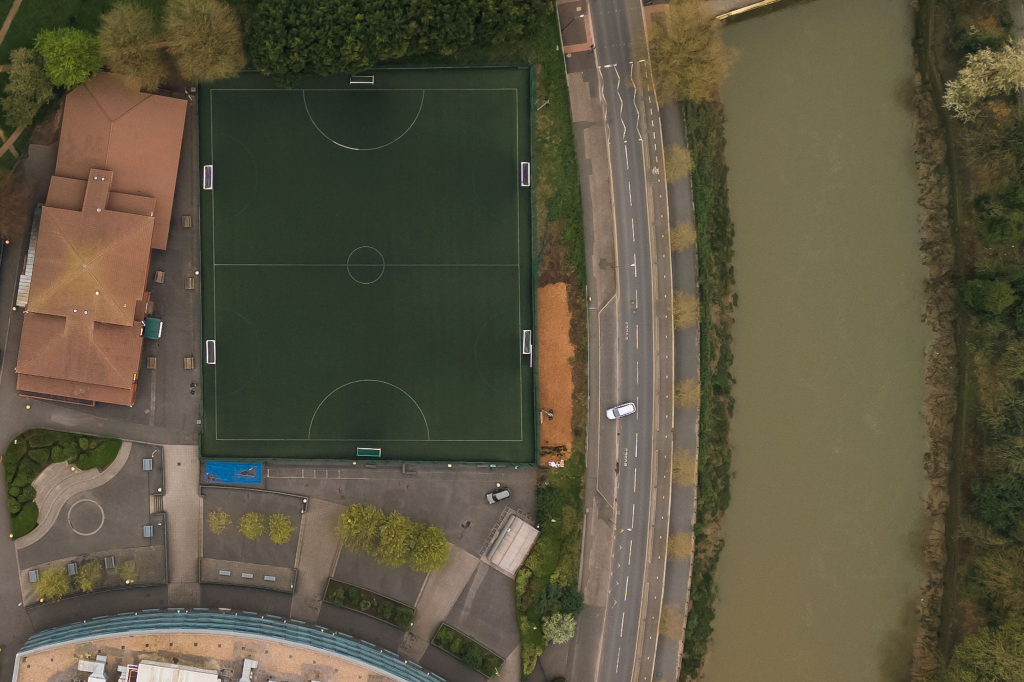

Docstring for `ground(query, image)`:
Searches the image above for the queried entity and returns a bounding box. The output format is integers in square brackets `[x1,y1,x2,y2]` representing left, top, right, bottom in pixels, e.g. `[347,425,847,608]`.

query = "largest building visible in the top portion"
[15,72,188,406]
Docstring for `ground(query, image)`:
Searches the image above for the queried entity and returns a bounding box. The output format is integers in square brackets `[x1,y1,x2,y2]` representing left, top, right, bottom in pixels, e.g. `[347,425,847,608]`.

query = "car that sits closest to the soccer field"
[485,487,511,505]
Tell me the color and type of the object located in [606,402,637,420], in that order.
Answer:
white car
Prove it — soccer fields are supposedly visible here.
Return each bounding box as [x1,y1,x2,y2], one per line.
[200,65,538,465]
